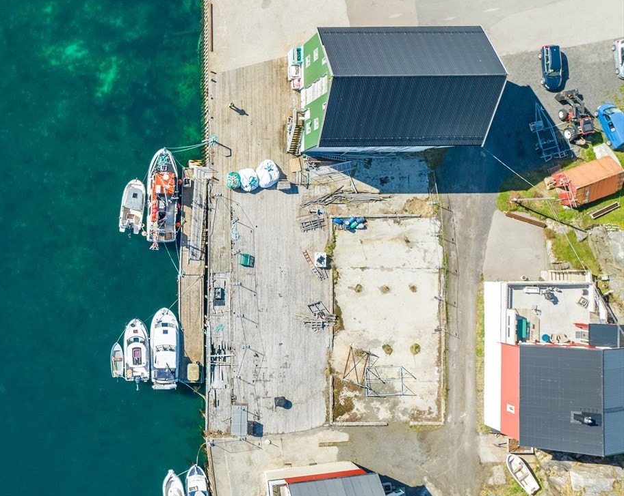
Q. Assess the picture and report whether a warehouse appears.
Yes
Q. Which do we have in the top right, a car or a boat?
car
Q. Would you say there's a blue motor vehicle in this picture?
Yes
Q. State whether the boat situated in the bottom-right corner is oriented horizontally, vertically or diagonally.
diagonally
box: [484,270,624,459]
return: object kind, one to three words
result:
house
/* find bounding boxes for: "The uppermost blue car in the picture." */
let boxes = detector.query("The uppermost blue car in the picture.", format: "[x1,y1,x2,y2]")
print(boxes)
[536,43,565,92]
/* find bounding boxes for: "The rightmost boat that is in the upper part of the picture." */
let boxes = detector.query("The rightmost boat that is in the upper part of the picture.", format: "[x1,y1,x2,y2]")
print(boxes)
[146,148,183,249]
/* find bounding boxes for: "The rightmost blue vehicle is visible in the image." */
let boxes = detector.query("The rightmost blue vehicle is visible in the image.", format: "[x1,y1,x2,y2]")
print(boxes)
[596,101,624,147]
